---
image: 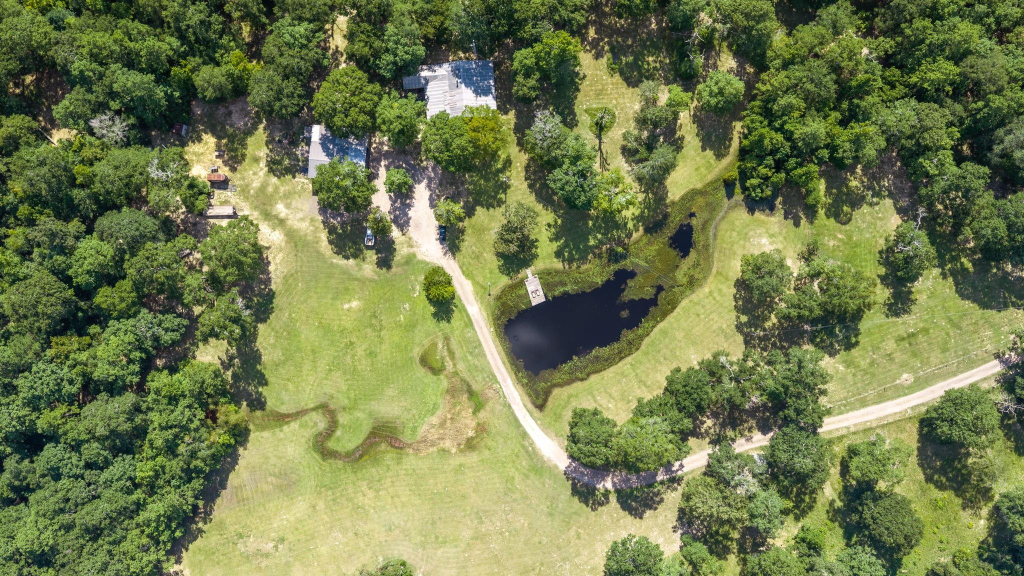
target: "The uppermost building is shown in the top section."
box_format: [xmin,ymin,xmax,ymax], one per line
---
[404,60,497,120]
